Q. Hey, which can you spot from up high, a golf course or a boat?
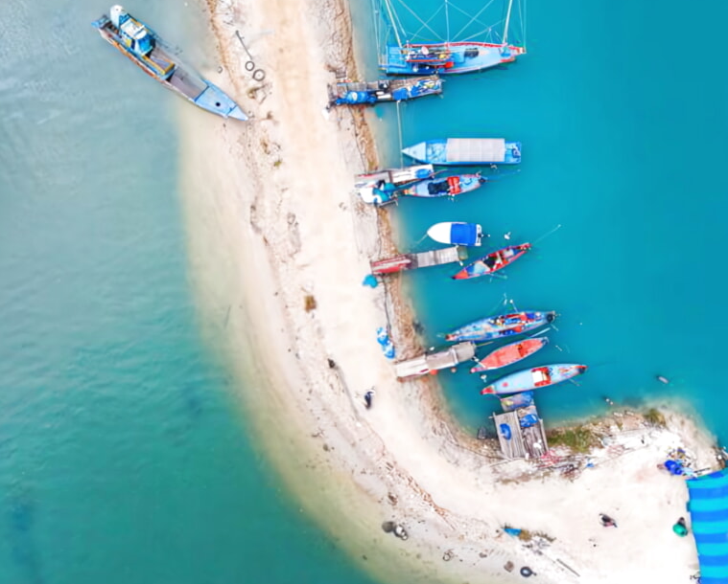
boat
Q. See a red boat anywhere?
Yes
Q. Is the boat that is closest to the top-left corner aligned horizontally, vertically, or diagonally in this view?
diagonally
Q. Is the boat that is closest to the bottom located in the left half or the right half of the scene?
right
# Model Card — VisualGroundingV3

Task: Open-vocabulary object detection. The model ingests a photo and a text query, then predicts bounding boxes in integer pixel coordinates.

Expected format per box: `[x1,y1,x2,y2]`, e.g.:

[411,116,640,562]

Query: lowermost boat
[481,364,591,394]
